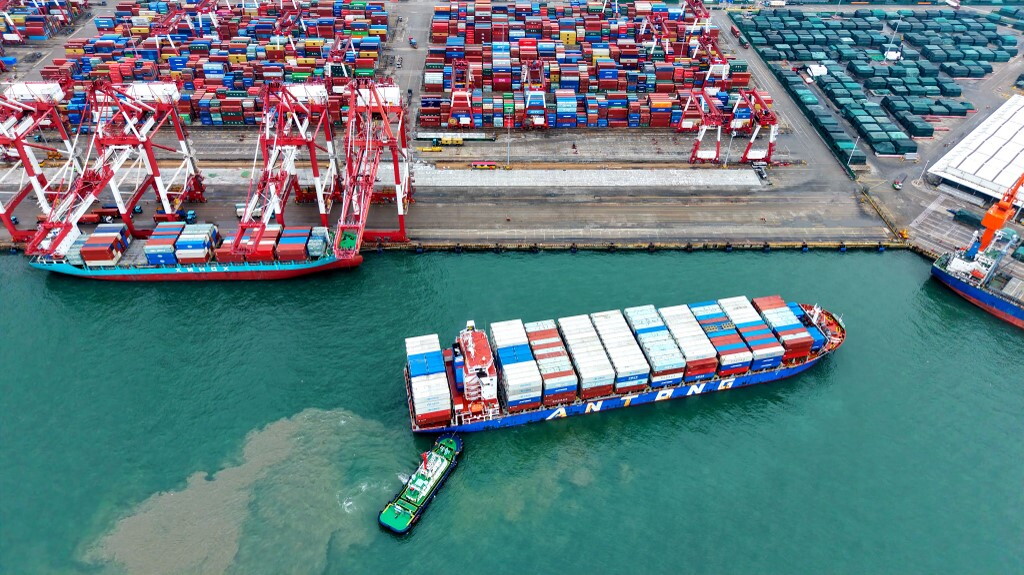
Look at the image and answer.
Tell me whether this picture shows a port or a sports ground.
port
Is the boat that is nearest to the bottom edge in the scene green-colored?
Yes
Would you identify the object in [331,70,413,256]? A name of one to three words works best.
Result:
container crane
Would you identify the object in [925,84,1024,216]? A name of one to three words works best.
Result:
building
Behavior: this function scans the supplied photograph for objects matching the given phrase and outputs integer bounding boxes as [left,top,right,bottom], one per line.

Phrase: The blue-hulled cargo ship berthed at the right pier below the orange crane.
[932,234,1024,330]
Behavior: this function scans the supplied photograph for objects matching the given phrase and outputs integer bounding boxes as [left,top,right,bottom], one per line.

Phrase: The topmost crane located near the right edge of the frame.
[957,161,1024,261]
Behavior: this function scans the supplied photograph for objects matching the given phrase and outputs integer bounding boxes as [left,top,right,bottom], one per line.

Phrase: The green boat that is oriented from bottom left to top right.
[376,426,470,534]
